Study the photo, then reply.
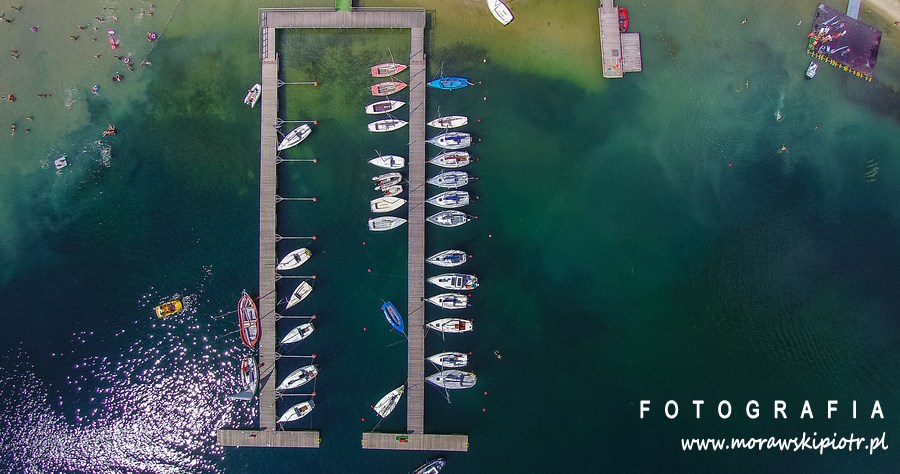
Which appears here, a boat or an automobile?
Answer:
boat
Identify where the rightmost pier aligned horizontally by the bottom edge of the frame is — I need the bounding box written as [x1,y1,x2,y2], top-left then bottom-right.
[360,432,469,452]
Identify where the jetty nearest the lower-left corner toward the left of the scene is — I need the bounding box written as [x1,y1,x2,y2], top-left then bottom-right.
[217,429,321,448]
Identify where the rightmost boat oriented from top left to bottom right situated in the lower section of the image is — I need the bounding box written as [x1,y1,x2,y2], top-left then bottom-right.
[382,301,408,339]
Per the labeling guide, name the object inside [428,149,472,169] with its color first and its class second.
white boat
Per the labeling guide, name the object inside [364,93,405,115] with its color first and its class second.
white boat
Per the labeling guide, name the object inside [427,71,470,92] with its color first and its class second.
blue boat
